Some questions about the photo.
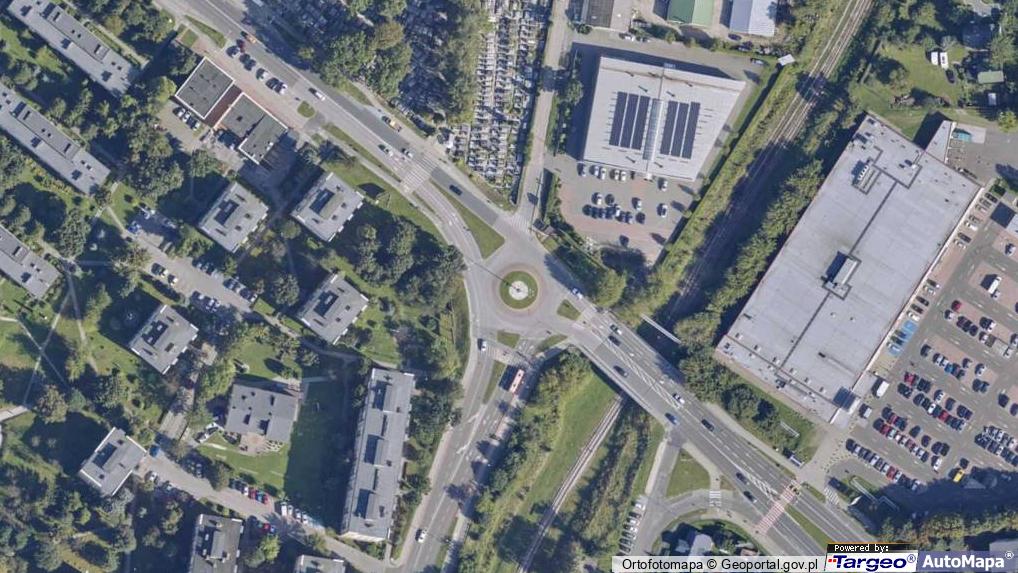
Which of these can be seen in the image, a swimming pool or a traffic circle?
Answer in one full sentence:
Looking from above, you can make out a traffic circle.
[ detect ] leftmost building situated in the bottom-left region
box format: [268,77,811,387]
[79,426,149,498]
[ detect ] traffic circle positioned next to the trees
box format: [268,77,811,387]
[471,243,566,336]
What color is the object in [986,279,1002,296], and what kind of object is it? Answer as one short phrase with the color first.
white vehicle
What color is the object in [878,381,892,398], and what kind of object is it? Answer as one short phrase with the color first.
white vehicle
